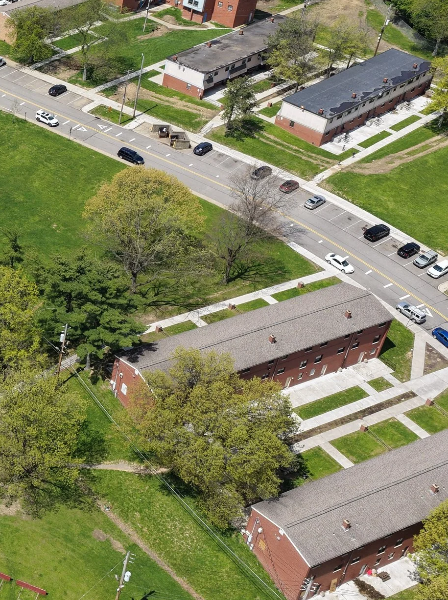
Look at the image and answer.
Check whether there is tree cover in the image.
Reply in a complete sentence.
Yes, there is tree cover in the image.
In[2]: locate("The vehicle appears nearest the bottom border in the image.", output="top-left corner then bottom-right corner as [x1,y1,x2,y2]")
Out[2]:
[428,330,448,348]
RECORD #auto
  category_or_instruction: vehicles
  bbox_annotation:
[48,85,68,97]
[302,196,327,210]
[0,56,7,66]
[393,303,430,324]
[394,242,423,259]
[412,248,441,268]
[118,146,143,165]
[278,180,302,194]
[425,261,448,278]
[428,330,448,348]
[323,254,356,274]
[192,141,214,155]
[363,224,391,241]
[36,110,60,126]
